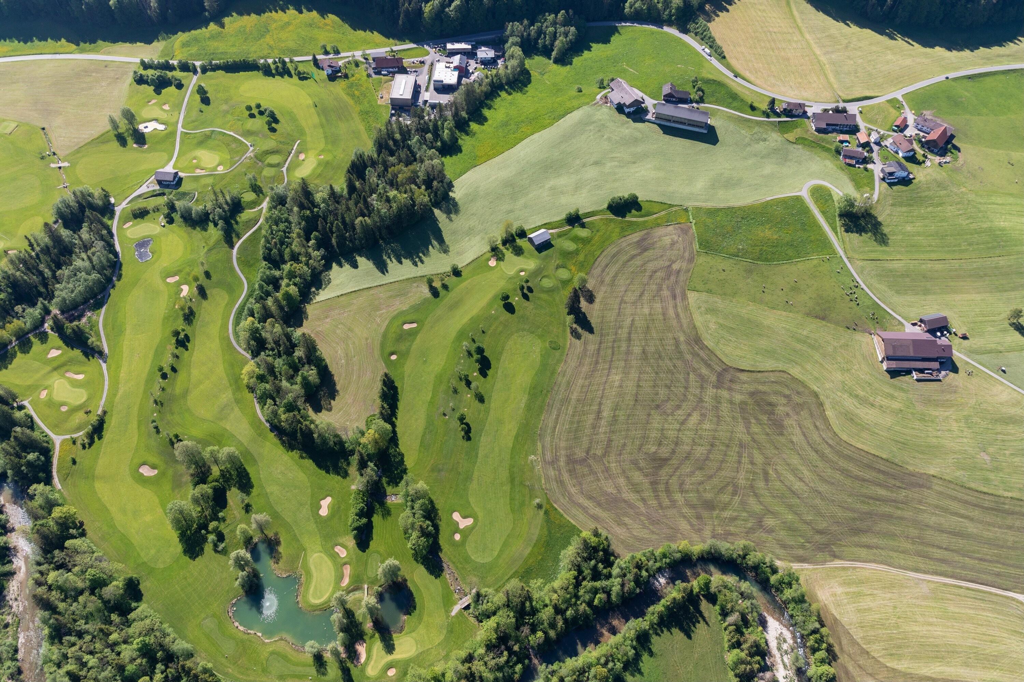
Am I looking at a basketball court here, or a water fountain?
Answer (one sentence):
The image shows a water fountain.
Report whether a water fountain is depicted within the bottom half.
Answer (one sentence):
Yes, there is a water fountain within the bottom half.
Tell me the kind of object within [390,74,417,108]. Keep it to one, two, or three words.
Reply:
building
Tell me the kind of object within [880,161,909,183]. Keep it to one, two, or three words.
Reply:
house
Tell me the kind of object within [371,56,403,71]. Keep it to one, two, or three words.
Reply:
house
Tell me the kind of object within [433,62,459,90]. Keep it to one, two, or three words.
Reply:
building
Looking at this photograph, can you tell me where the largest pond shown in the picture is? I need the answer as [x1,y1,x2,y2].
[231,542,337,647]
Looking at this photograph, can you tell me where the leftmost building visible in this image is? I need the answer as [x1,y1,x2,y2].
[154,169,179,185]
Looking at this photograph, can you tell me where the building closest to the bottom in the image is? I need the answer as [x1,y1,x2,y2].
[874,331,953,373]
